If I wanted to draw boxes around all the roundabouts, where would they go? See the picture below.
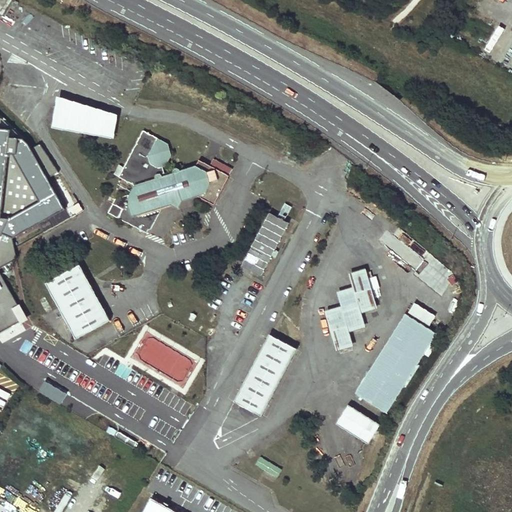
[470,172,512,313]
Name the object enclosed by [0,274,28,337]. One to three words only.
building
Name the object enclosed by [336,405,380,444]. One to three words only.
shed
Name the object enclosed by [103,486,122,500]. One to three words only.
vehicle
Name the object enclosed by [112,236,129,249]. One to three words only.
vehicle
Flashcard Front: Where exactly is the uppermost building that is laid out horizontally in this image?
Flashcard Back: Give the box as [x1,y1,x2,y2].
[52,96,117,140]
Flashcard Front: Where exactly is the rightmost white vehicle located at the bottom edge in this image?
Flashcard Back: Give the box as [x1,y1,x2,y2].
[397,478,410,500]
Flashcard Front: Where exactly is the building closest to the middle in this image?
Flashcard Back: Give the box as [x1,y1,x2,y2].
[243,213,289,278]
